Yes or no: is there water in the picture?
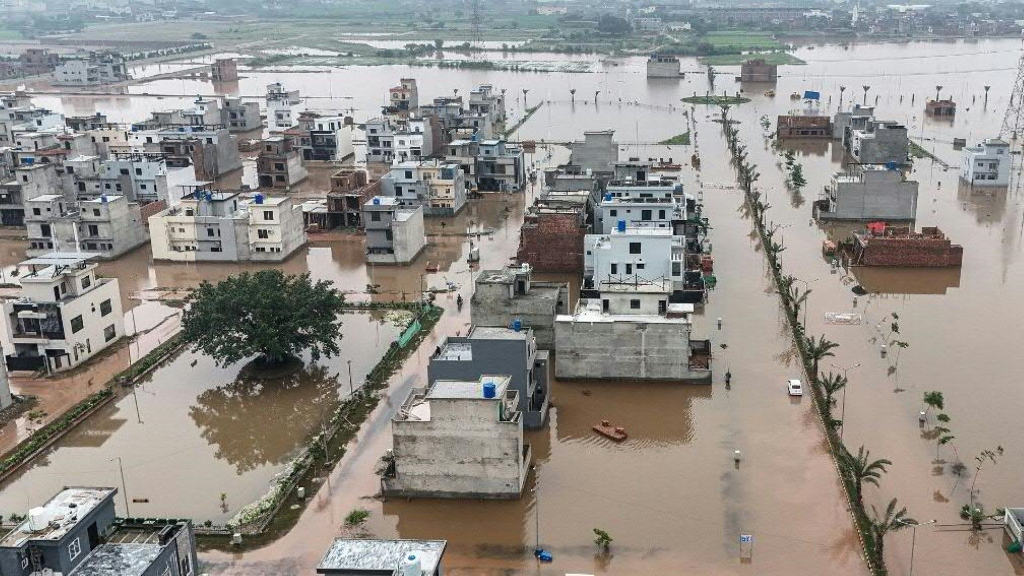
Yes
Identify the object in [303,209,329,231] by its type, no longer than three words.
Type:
shed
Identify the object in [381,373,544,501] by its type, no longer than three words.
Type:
house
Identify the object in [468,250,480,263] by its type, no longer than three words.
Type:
vehicle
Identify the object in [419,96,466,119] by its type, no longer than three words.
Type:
house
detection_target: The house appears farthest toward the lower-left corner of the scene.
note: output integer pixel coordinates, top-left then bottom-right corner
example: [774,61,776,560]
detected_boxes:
[0,483,189,576]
